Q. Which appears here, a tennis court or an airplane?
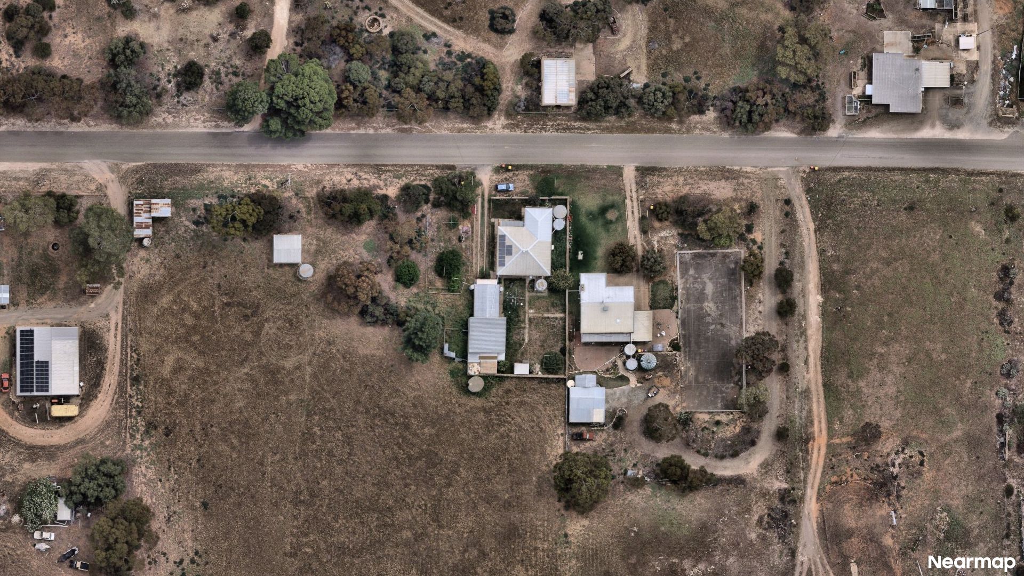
tennis court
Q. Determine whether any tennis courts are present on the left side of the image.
No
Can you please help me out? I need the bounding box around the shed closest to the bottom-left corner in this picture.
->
[56,497,70,521]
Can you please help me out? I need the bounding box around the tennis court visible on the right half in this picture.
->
[678,251,744,411]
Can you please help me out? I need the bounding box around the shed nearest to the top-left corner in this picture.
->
[133,199,170,237]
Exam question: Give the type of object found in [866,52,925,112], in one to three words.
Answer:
house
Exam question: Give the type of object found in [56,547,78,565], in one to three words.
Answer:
boat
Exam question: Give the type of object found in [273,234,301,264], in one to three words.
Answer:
shed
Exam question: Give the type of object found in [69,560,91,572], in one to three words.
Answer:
vehicle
